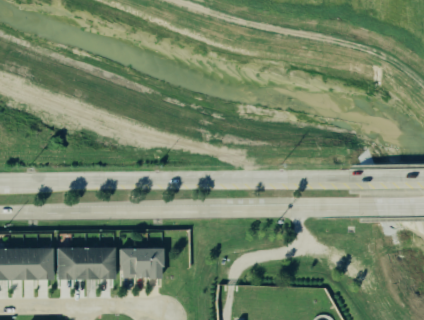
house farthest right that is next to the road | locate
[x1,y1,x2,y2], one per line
[119,248,164,288]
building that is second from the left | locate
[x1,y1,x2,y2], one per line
[56,248,114,281]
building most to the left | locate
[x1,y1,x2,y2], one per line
[0,248,52,281]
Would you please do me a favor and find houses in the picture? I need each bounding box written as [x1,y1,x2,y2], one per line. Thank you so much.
[0,248,52,281]
[56,248,114,281]
[119,248,164,288]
